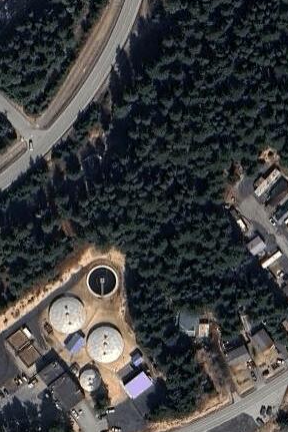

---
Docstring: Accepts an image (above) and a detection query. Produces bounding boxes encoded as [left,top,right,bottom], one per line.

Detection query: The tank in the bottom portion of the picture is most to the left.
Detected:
[49,295,88,334]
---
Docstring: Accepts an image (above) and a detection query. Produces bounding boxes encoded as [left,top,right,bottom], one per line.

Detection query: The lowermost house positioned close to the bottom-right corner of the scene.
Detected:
[226,346,252,371]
